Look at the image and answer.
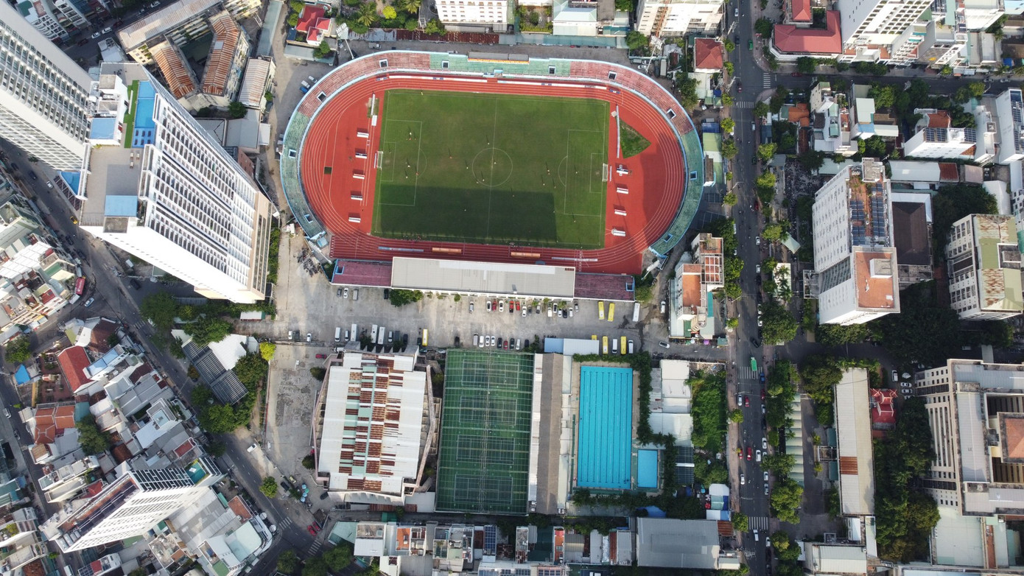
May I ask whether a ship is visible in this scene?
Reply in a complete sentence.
No, the photo shows no ship.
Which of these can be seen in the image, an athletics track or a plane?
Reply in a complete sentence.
It is an athletics track that can be seen here.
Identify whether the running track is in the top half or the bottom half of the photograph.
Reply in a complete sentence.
The top half of the photo is where the running track is.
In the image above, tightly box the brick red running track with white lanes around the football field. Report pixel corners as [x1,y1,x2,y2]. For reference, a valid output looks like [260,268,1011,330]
[303,75,683,274]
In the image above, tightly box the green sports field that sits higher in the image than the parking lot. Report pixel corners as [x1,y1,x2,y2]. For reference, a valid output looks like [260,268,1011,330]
[371,89,609,248]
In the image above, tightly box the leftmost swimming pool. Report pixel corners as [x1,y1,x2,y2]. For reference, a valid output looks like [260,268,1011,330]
[60,171,78,191]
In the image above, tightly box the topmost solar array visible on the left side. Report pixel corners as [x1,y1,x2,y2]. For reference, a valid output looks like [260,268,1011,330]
[77,485,140,535]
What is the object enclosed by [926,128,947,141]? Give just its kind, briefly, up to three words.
solar array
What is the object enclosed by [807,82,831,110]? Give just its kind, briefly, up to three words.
house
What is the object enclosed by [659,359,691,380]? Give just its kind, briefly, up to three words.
building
